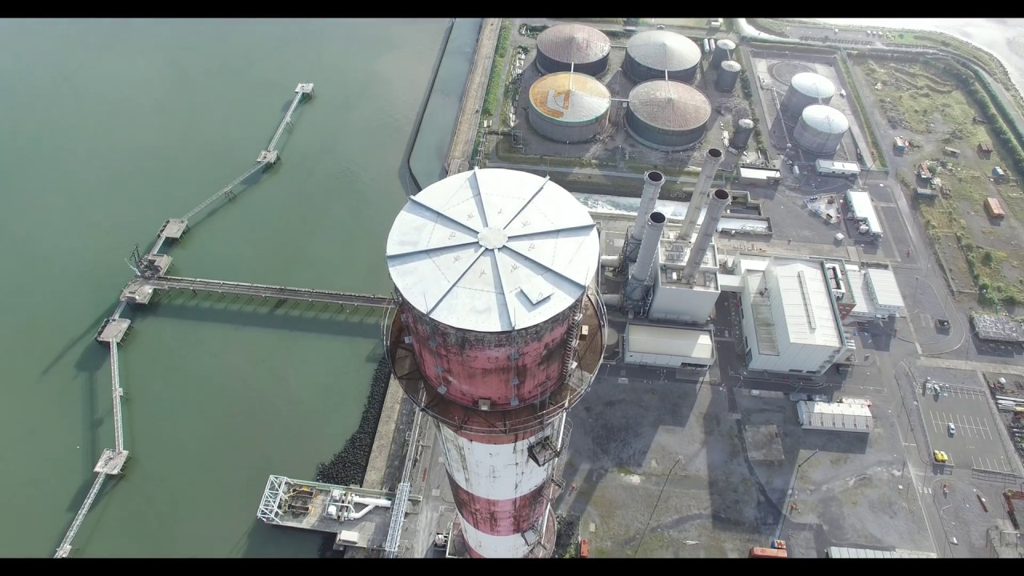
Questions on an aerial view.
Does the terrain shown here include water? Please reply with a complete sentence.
Yes, there's water in this view.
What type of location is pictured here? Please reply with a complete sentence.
This looks like an industrial area.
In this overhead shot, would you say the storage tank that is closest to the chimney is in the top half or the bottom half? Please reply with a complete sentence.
The storage tank that is closest to the chimney sits in the top half of the picture.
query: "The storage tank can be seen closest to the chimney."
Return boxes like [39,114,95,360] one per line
[526,73,611,144]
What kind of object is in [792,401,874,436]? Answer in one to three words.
building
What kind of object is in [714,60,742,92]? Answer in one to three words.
storage tank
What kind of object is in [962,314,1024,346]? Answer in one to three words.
shed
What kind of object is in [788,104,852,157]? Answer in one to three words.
water tank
